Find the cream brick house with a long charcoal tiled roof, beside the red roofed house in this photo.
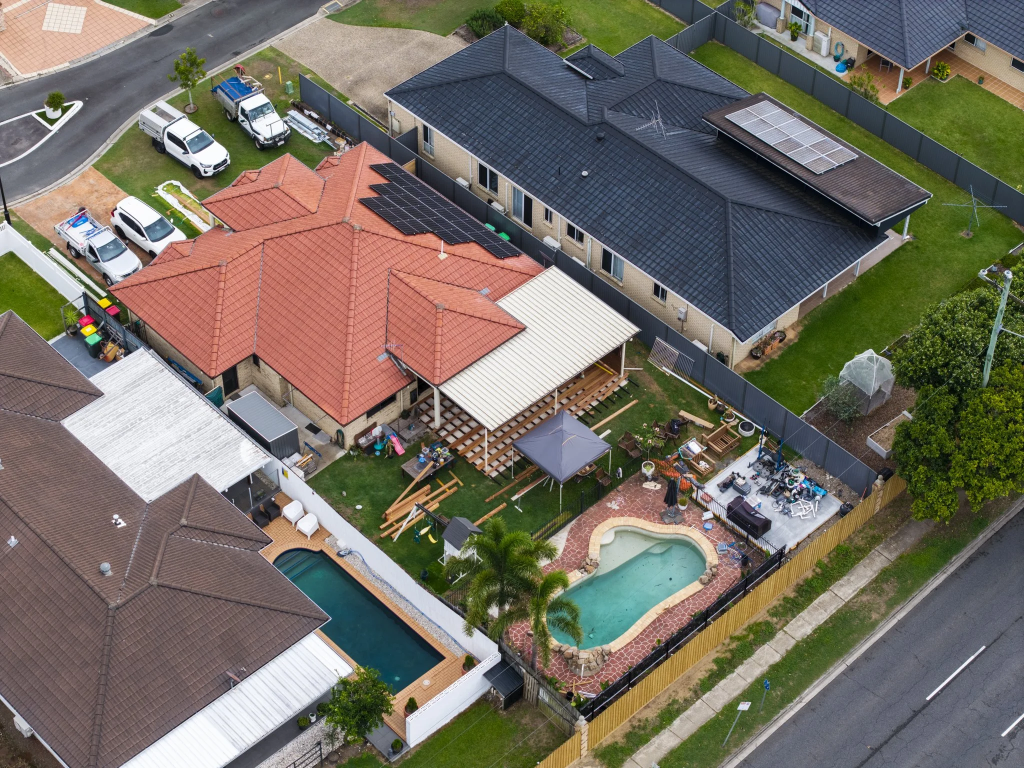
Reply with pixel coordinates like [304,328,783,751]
[380,23,888,370]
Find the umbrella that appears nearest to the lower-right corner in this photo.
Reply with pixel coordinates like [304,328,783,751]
[651,472,691,530]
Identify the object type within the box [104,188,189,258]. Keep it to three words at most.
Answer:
car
